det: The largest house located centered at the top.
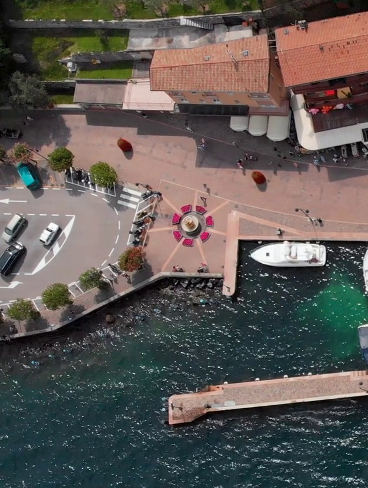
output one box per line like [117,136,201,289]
[149,34,289,120]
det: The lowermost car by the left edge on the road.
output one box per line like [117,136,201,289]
[0,240,29,275]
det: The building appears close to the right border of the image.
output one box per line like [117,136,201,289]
[275,11,368,102]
